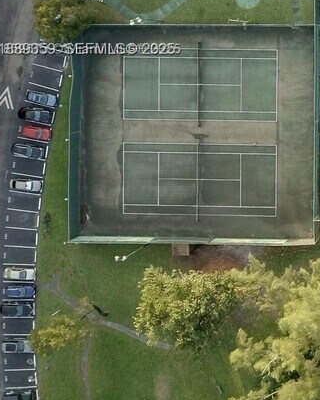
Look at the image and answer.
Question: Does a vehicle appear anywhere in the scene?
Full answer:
Yes, a vehicle can be made out from above.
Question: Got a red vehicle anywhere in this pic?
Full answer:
Yes, you can see a red vehicle in this photo.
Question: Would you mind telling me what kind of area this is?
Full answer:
This image shows a sports ground.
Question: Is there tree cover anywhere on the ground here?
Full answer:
Yes, there's tree cover in this view.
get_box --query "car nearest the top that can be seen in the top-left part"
[27,90,60,107]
